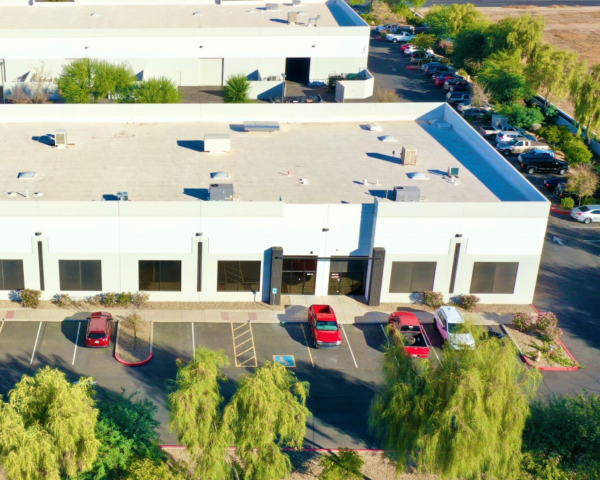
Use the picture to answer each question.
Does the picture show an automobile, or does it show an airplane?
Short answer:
automobile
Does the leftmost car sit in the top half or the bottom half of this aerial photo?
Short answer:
bottom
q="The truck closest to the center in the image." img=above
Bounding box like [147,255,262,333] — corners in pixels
[303,296,341,341]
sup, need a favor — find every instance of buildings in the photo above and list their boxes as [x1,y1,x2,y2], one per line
[0,103,551,305]
[0,0,369,86]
